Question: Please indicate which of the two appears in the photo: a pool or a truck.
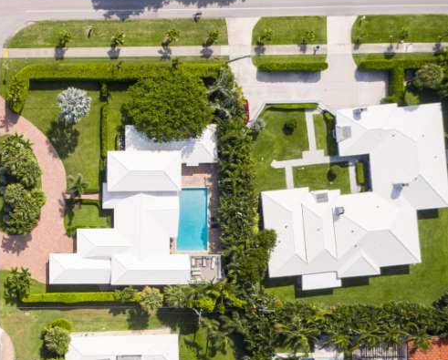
pool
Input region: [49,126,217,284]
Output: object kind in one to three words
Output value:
house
